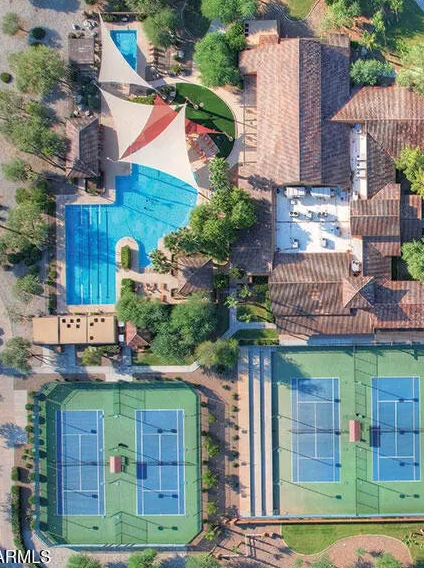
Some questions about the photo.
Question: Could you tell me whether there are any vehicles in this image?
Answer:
No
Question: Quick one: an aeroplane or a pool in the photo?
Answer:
pool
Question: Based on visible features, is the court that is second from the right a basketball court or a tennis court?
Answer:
tennis court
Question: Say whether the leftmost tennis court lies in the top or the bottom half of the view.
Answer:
bottom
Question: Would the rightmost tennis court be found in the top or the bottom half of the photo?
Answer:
bottom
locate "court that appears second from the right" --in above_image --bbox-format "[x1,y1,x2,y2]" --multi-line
[273,346,356,518]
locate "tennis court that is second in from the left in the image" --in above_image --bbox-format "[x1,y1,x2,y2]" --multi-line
[120,382,202,545]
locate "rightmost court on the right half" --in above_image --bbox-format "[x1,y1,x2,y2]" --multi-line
[356,345,424,518]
